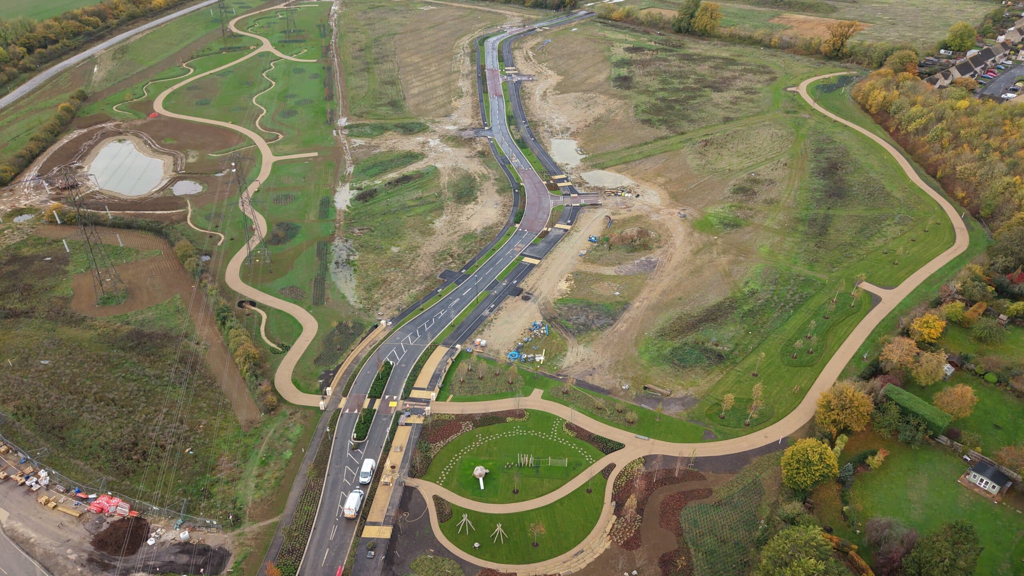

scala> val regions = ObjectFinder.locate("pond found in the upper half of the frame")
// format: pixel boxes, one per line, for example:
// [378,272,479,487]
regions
[89,140,164,196]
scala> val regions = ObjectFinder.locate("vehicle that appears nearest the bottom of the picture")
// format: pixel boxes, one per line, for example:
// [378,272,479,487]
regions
[348,487,370,516]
